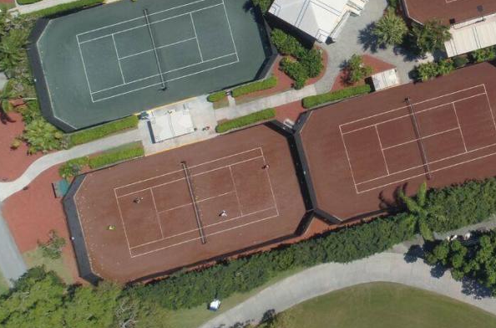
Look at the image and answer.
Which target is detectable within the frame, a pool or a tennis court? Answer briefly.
tennis court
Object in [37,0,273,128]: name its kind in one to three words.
tennis court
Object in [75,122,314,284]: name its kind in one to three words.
tennis court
